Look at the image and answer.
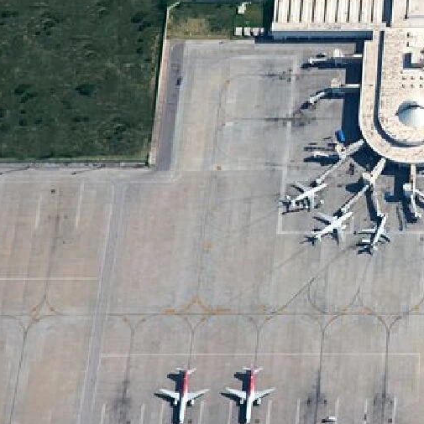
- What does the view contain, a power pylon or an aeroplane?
aeroplane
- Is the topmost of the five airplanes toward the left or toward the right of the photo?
right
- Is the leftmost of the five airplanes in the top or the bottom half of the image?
bottom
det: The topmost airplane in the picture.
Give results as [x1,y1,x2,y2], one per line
[287,177,326,212]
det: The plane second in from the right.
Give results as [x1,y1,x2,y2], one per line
[311,208,352,243]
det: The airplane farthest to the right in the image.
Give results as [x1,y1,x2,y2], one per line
[358,216,397,250]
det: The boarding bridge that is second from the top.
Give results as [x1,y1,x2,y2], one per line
[305,79,361,105]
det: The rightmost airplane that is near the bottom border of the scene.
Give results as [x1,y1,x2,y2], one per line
[225,369,276,423]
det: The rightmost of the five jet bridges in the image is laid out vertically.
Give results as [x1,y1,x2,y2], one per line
[402,167,424,220]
